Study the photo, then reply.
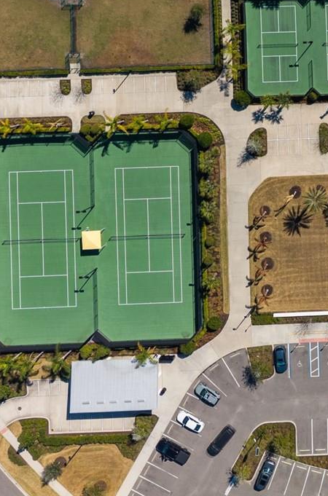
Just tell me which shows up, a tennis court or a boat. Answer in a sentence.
This aerial view contains a tennis court.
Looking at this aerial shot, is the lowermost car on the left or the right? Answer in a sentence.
It is on the right.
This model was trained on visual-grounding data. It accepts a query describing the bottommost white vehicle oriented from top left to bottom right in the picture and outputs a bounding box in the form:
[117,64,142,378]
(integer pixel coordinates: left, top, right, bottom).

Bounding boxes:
[177,411,205,433]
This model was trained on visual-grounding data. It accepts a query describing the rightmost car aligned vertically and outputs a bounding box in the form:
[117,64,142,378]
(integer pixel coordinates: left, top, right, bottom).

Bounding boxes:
[273,345,287,374]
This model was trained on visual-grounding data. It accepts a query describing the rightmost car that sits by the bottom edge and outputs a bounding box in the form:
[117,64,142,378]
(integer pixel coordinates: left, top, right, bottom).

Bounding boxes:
[254,460,276,490]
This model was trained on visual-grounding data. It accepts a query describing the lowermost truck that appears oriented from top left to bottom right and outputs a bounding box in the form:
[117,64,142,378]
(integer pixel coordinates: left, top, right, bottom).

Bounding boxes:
[156,438,190,465]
